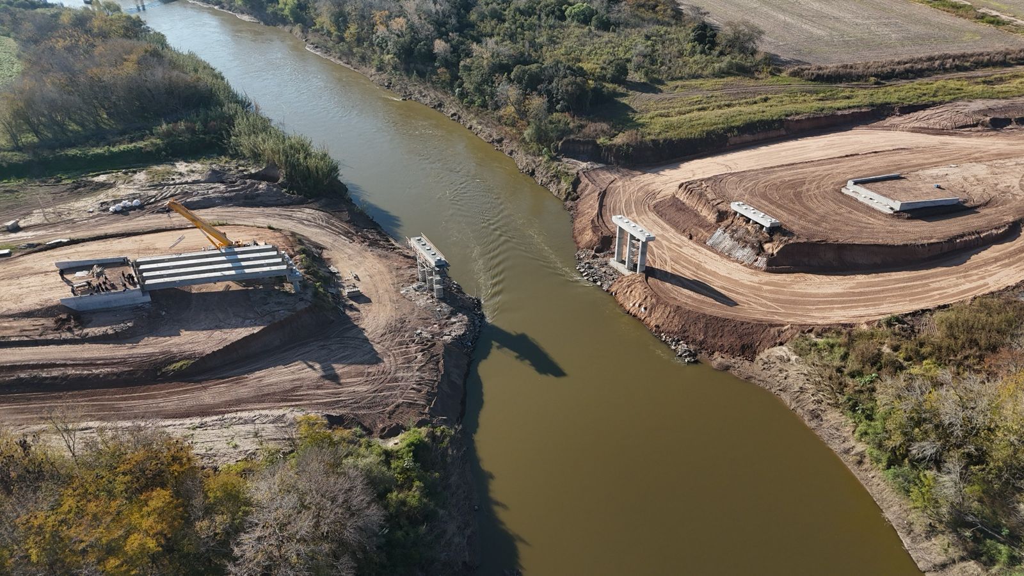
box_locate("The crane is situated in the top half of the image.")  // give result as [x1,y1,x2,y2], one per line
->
[168,202,260,251]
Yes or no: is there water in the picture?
Yes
